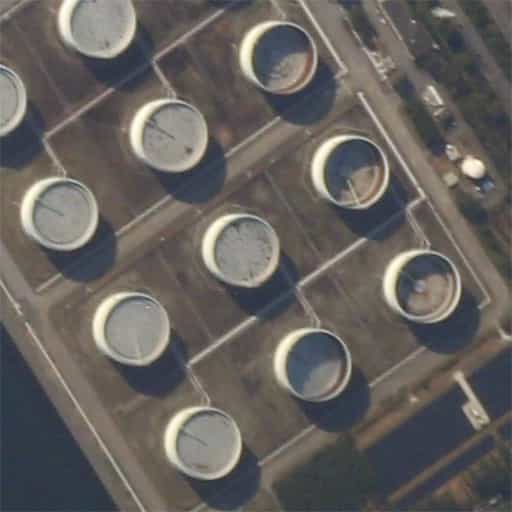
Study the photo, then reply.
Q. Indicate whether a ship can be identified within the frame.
No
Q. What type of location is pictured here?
industrial area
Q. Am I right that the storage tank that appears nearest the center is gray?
Yes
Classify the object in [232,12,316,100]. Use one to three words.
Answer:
storage tank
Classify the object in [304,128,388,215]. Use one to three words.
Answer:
storage tank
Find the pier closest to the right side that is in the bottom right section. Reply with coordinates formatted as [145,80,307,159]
[455,371,490,429]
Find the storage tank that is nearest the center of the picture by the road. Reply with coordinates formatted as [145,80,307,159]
[194,205,278,293]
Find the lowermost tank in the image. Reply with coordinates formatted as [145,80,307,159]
[157,396,242,484]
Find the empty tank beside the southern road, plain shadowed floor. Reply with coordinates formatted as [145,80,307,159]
[266,320,350,407]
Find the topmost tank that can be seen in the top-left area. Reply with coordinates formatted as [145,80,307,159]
[50,0,136,64]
